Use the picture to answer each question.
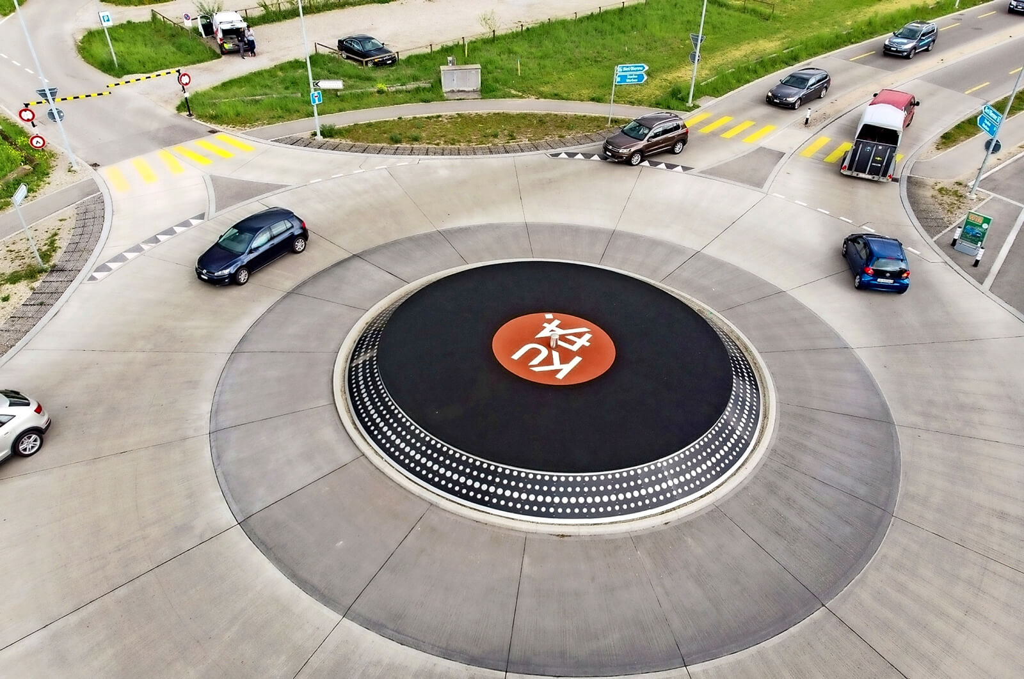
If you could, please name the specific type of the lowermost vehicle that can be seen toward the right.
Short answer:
car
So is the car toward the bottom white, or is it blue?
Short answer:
white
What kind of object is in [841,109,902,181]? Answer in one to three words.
trailer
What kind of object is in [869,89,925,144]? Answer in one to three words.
van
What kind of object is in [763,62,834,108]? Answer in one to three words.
car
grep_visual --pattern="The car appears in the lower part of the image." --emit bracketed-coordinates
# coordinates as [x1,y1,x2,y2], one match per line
[0,388,45,463]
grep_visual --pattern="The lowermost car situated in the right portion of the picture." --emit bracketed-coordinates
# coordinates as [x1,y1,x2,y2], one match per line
[844,233,914,294]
